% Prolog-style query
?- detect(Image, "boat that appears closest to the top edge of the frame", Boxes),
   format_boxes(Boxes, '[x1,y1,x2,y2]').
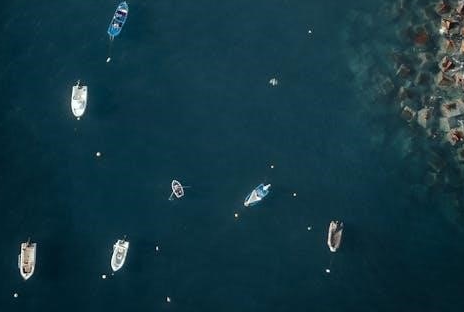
[107,2,127,41]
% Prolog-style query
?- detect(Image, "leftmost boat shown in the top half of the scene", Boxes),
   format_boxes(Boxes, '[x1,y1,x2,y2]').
[71,80,88,117]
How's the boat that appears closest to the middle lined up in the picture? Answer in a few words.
on a diagonal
